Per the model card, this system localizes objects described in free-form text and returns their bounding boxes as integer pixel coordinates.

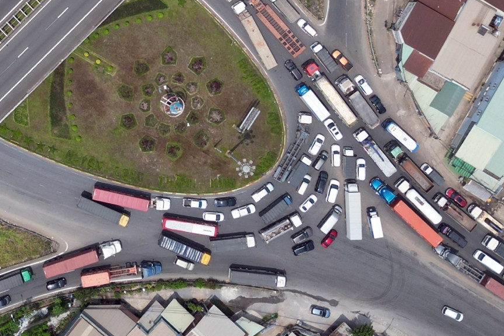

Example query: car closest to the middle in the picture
[249,181,275,203]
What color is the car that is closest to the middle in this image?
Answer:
white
